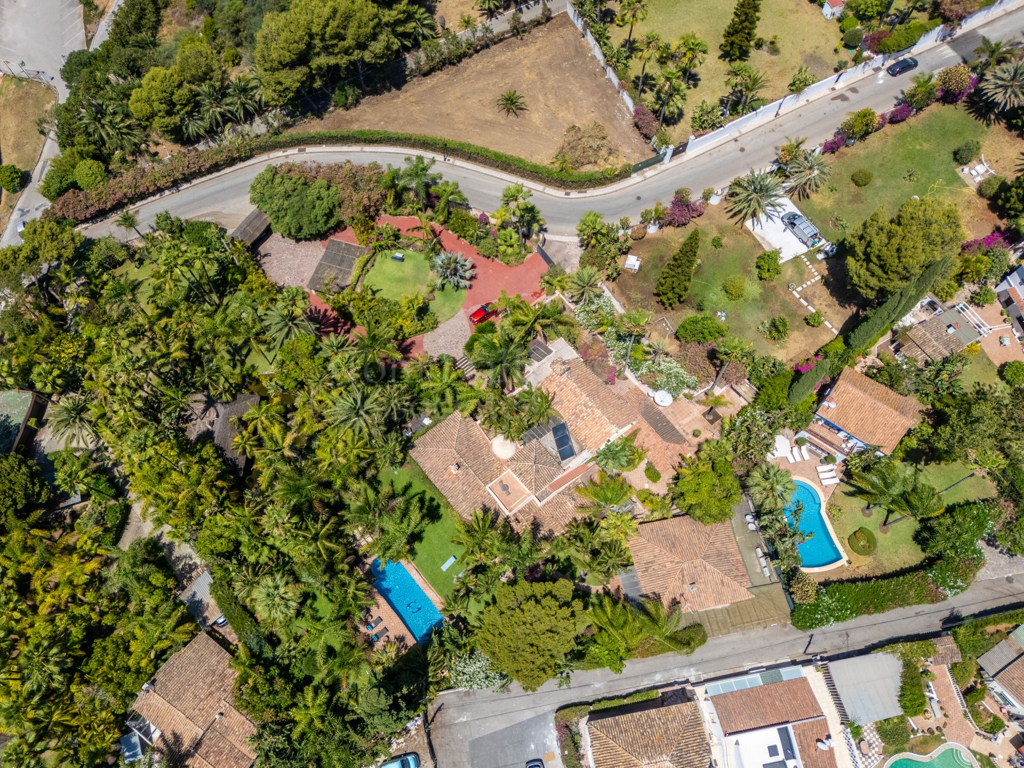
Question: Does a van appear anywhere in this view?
Yes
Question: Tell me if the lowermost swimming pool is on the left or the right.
right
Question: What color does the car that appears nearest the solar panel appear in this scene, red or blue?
red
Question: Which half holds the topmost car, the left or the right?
right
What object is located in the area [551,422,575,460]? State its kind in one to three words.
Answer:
solar panel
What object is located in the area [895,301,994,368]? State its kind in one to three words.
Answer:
house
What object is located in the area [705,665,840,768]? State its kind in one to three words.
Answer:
house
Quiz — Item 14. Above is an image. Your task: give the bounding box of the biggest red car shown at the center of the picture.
[466,300,499,326]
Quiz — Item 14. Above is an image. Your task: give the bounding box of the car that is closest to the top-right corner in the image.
[886,58,917,78]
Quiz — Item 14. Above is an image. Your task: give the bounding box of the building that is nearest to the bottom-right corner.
[979,624,1024,714]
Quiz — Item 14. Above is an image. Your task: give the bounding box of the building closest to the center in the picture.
[410,336,693,536]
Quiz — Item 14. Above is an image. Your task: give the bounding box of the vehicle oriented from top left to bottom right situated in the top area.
[784,215,825,251]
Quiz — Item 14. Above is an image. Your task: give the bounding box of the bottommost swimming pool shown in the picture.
[891,748,974,768]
